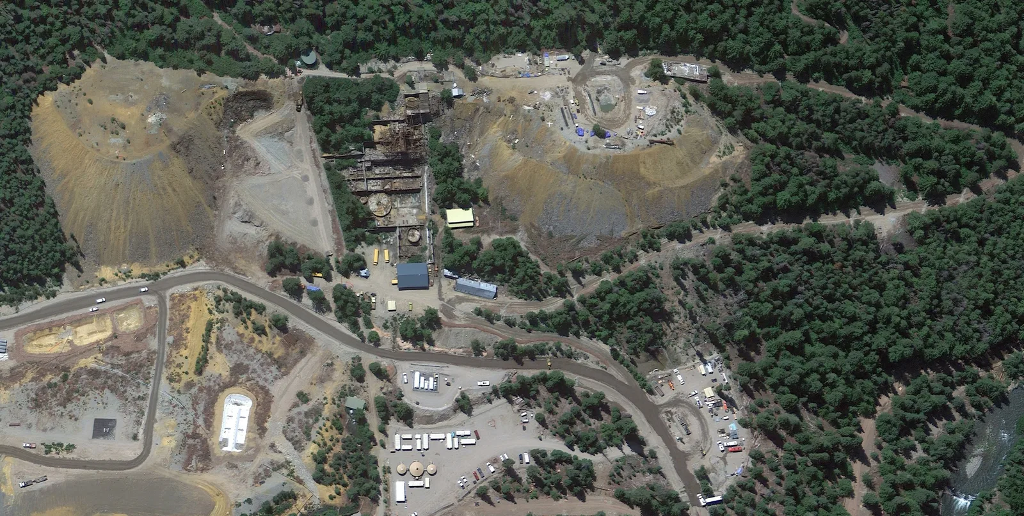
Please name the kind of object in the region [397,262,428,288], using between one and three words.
building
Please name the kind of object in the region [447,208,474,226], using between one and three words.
shed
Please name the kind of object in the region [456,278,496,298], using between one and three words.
shed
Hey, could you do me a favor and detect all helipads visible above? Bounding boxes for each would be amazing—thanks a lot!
[93,419,117,440]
